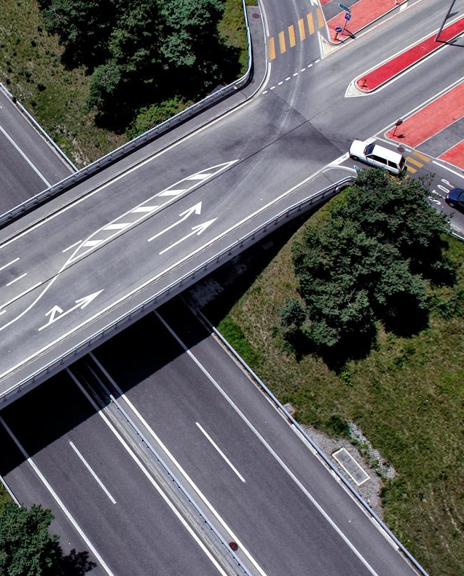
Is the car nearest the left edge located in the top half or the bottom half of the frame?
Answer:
top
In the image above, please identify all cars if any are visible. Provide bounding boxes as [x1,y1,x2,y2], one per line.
[442,189,464,215]
[348,140,406,178]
